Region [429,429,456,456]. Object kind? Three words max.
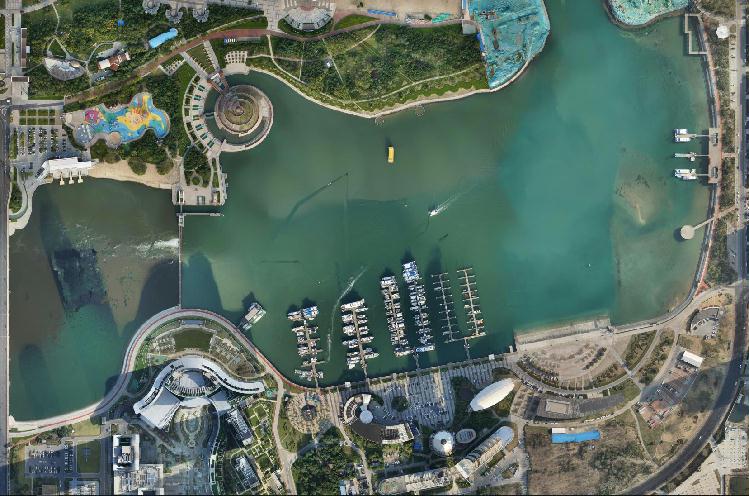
building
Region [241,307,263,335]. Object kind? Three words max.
ship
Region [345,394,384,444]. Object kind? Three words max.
building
